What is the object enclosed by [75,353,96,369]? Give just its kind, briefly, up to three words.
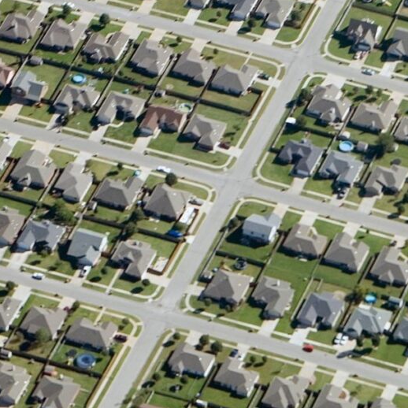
swimming pool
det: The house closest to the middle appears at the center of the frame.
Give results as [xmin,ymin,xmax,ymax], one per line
[143,187,193,223]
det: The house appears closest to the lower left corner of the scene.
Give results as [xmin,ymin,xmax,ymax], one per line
[0,365,37,408]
